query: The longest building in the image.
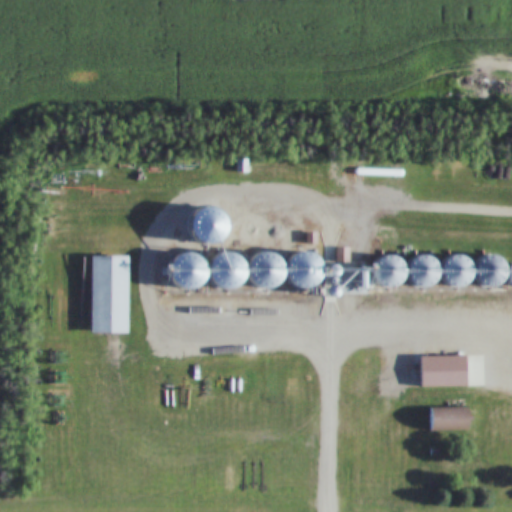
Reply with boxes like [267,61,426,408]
[90,255,130,334]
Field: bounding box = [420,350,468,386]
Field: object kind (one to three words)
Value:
house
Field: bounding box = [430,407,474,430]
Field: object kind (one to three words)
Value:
barn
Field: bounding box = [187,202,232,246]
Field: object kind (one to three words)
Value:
silo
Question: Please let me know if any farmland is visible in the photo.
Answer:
Yes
